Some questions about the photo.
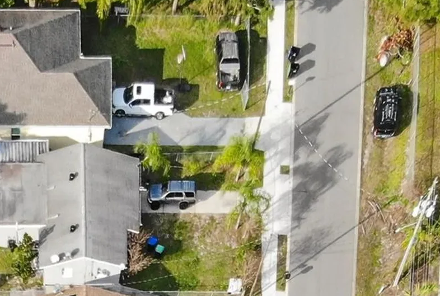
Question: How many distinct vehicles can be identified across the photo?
four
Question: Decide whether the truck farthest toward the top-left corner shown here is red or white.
white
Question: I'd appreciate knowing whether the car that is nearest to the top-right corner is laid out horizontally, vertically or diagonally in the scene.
vertically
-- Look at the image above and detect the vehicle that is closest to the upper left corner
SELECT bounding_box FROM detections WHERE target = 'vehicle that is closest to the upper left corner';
[113,82,174,119]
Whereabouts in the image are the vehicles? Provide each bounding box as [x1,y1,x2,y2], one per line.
[374,86,402,142]
[113,82,174,119]
[217,35,244,101]
[149,181,197,211]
